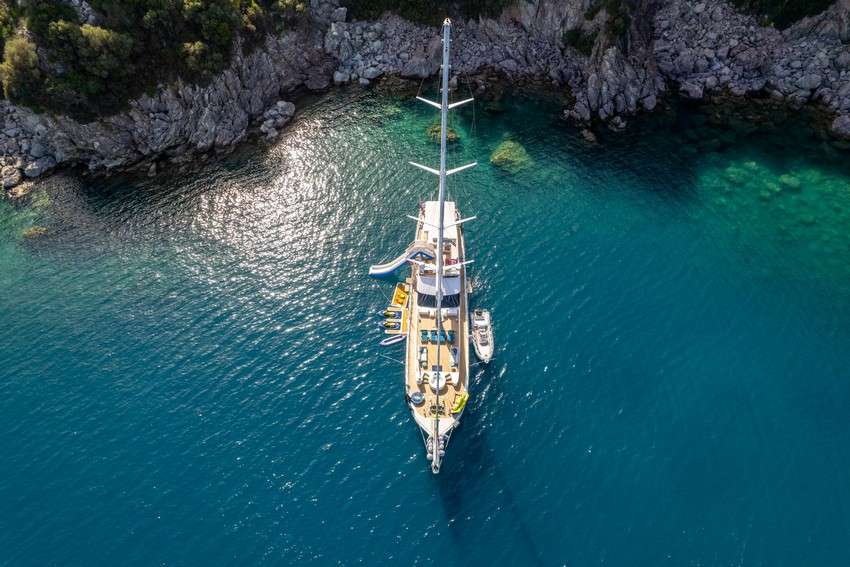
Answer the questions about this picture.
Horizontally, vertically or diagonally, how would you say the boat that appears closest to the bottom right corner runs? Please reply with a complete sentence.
The boat that appears closest to the bottom right corner is laid out vertically.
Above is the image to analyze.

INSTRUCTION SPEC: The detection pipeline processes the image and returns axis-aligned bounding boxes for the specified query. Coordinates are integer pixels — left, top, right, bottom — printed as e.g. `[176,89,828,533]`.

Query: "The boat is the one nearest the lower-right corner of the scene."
[471,306,493,363]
